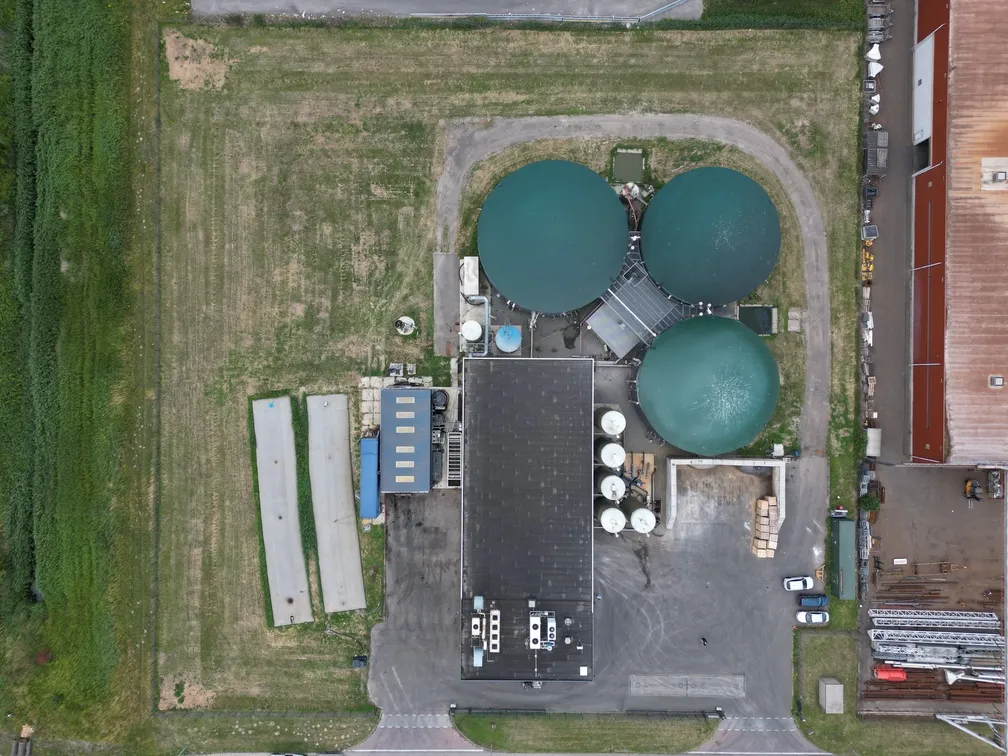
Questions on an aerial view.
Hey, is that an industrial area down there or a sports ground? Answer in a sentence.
It's an industrial area.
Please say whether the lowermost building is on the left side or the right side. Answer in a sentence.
The lowermost building appears in the right half of the scene.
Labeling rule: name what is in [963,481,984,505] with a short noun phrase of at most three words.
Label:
work vehicle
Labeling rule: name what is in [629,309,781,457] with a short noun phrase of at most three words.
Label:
storage tank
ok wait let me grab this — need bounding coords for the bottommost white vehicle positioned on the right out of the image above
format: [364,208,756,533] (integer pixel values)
[796,609,830,624]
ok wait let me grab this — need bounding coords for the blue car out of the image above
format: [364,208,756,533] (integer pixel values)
[797,593,828,608]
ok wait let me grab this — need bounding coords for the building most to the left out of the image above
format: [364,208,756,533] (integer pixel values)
[381,388,433,492]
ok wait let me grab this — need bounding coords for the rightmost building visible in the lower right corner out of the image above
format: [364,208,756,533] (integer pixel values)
[818,676,844,713]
